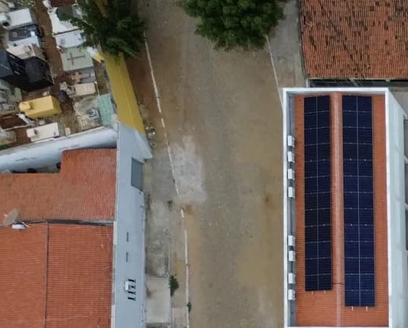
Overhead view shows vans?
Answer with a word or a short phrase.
No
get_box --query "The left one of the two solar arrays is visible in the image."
[305,93,333,290]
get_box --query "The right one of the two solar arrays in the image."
[343,93,374,311]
